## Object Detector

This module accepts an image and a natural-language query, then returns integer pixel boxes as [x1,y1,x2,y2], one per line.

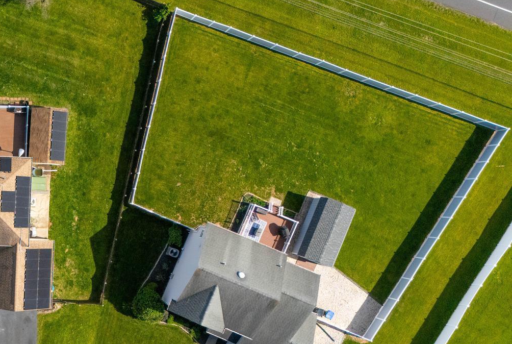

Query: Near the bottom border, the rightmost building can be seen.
[159,223,321,344]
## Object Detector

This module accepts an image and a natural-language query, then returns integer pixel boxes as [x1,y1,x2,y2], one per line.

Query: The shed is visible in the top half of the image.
[30,108,68,165]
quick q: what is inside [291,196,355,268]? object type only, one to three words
shed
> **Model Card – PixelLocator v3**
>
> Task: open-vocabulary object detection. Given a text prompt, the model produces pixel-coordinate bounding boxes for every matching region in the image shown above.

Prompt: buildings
[0,156,54,312]
[159,223,321,344]
[291,196,355,268]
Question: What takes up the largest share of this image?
grass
